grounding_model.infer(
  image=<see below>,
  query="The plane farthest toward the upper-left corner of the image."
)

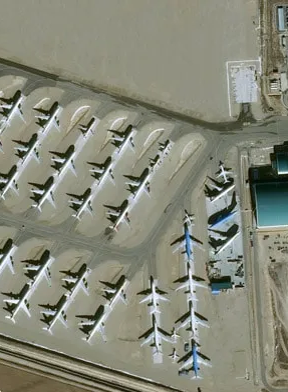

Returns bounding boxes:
[0,97,25,125]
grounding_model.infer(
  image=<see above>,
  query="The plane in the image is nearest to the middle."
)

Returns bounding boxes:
[127,175,152,203]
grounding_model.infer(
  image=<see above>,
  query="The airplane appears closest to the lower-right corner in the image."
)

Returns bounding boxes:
[179,343,211,379]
